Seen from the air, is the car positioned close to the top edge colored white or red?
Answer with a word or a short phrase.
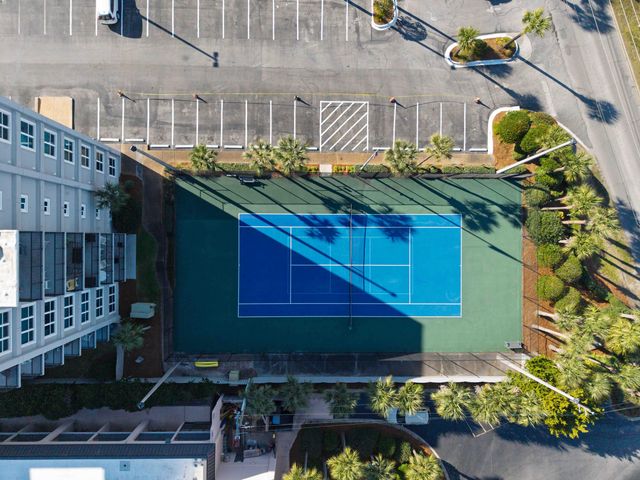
white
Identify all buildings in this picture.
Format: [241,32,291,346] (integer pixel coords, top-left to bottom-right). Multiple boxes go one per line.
[0,95,137,396]
[0,399,221,480]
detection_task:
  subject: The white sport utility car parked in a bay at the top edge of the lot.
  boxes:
[97,0,121,26]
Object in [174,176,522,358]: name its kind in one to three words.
tennis court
